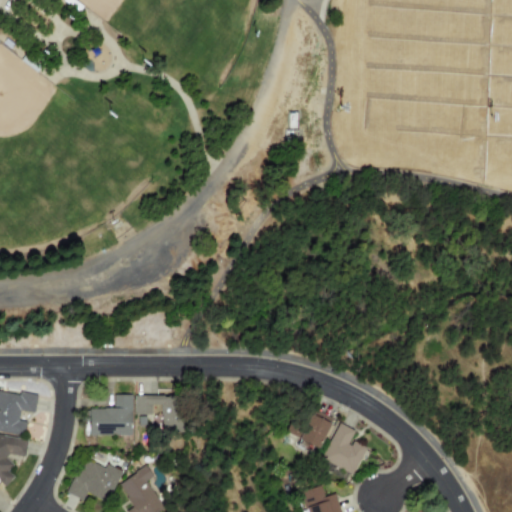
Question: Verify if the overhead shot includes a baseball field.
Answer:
Yes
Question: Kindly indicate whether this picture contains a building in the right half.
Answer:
Yes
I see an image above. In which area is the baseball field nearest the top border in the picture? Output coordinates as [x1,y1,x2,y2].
[83,0,254,112]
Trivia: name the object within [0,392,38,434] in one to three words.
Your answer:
house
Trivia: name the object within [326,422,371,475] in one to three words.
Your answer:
house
